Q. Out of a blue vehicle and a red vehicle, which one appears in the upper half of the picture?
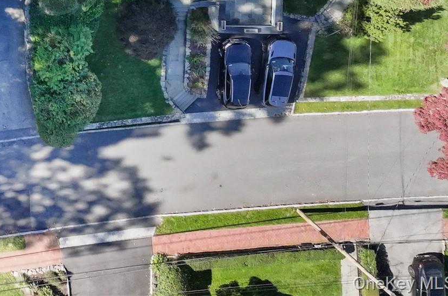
blue vehicle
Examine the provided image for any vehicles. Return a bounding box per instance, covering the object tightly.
[255,34,299,109]
[216,37,256,110]
[403,252,447,296]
